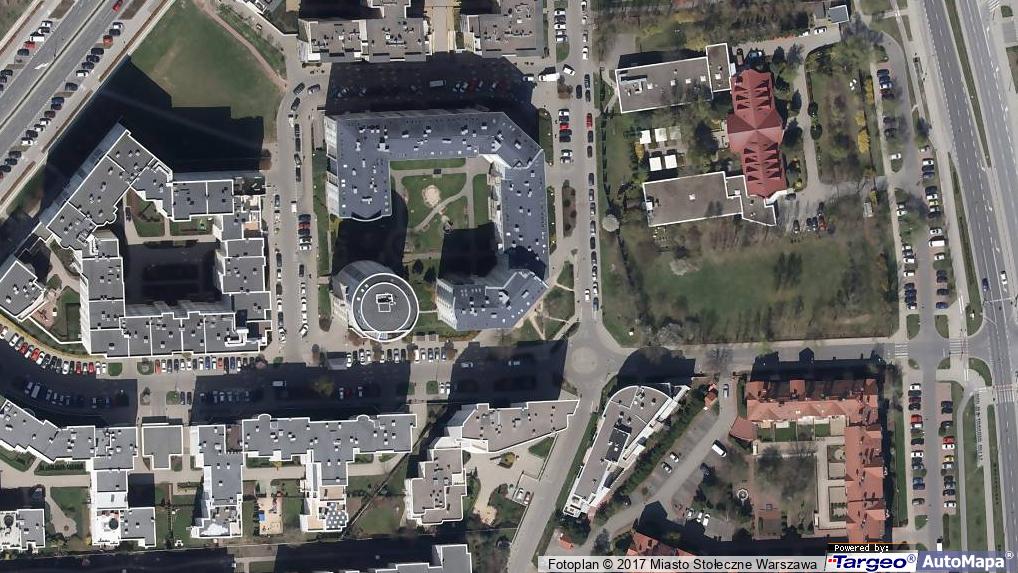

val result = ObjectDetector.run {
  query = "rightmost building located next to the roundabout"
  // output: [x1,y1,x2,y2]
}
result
[560,383,690,517]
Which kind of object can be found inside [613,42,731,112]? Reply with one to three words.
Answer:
building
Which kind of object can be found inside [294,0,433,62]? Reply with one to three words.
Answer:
building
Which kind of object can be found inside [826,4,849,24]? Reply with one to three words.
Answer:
shed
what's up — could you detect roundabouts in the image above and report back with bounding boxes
[565,339,606,381]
